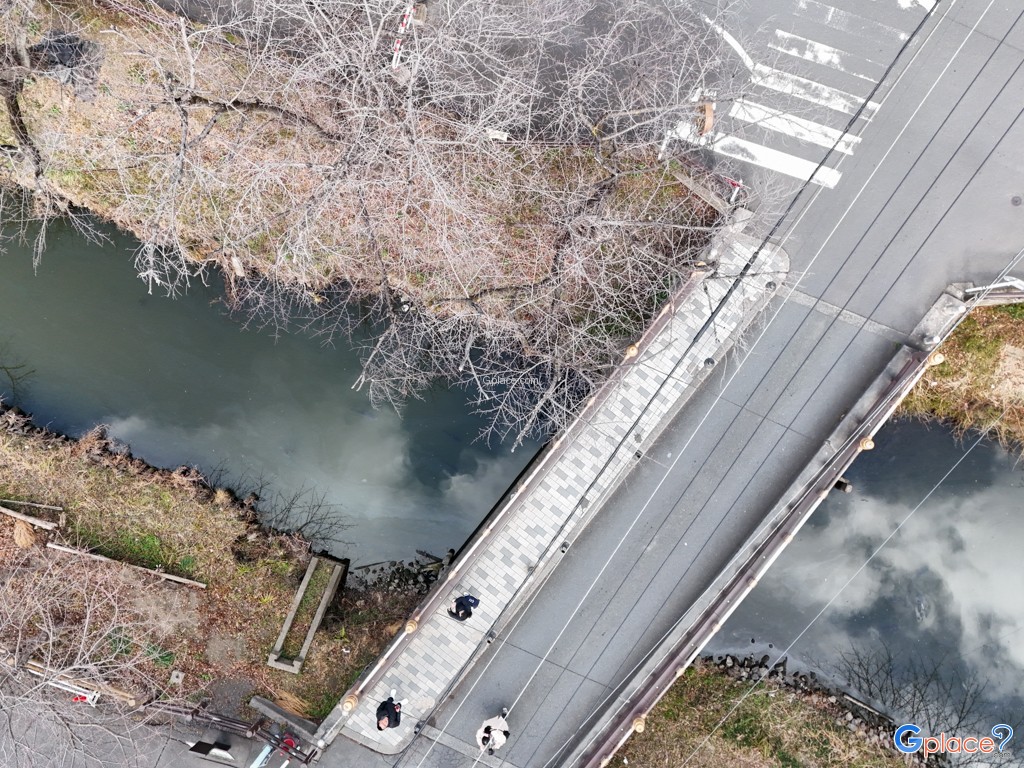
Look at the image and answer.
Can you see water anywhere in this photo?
Yes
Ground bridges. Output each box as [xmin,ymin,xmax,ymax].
[327,236,984,768]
